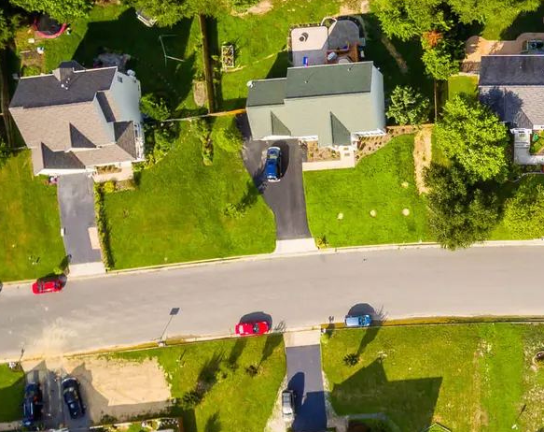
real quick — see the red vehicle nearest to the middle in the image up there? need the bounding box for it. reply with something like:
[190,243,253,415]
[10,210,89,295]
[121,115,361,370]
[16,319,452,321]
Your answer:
[232,320,267,335]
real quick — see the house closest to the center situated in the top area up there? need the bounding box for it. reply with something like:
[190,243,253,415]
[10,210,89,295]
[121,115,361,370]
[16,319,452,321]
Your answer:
[245,62,386,155]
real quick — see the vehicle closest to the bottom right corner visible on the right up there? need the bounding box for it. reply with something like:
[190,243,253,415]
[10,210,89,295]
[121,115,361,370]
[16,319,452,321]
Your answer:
[342,314,371,327]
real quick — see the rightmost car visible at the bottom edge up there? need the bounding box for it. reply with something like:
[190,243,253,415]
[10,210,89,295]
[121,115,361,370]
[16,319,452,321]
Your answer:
[279,388,294,420]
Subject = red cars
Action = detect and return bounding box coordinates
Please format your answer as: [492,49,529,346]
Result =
[28,278,61,293]
[232,320,267,335]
